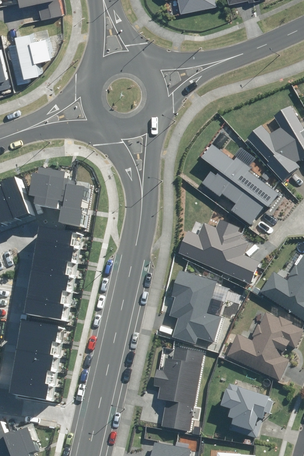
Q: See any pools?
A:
No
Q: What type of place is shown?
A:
residential area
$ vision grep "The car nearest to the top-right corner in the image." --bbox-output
[181,80,198,95]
